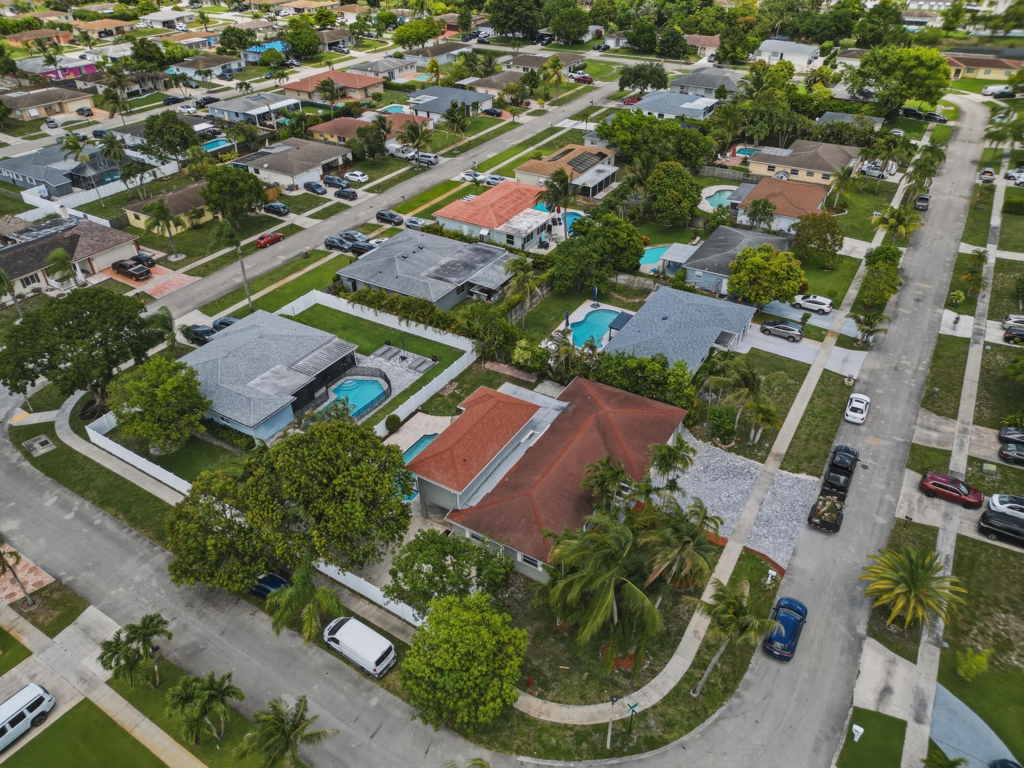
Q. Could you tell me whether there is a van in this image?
Yes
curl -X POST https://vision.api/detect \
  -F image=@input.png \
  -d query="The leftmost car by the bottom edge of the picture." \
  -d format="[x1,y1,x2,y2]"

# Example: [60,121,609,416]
[0,672,68,761]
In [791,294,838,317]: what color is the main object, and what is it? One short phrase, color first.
white car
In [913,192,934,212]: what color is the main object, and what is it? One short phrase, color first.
gray vehicle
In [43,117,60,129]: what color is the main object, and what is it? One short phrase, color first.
gray vehicle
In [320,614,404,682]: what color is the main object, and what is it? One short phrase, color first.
white van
